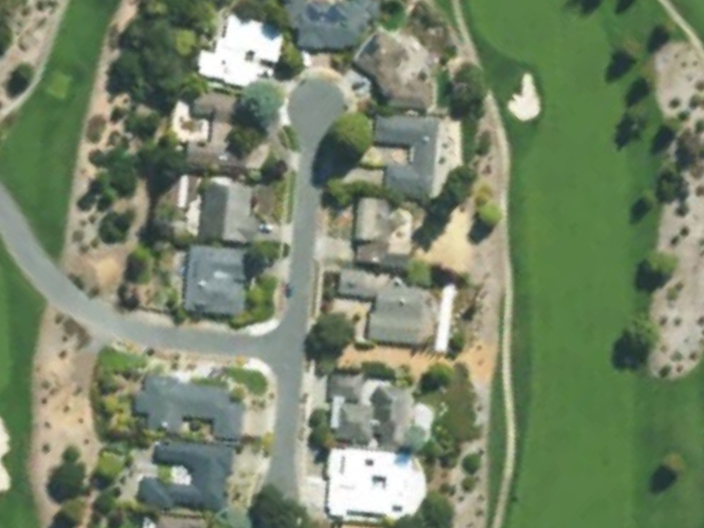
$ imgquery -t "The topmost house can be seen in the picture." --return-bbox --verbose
[277,0,386,49]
